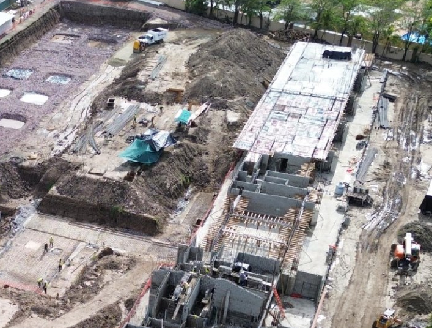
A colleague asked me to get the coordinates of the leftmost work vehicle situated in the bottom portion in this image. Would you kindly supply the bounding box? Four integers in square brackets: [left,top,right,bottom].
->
[372,304,407,328]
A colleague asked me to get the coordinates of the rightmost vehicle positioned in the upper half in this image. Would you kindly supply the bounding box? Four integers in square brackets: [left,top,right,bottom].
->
[138,28,179,46]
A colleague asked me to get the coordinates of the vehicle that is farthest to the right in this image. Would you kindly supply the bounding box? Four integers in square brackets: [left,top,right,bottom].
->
[393,229,423,278]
